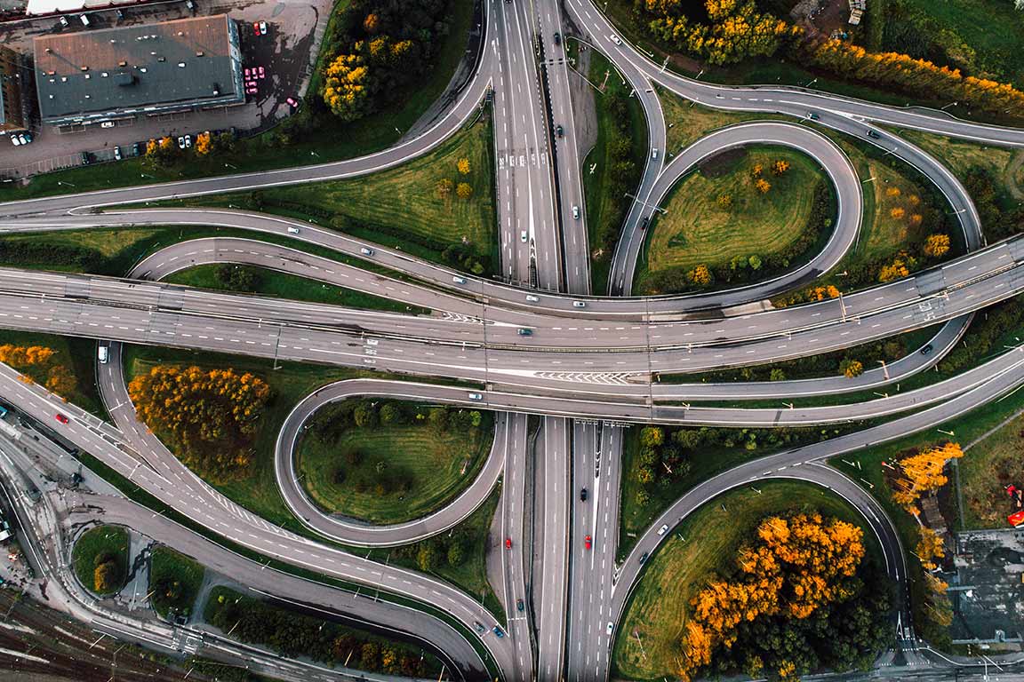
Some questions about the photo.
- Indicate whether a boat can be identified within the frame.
No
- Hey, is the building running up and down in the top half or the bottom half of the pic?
top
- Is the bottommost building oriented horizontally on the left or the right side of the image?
left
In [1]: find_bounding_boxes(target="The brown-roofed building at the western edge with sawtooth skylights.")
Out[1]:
[0,47,39,138]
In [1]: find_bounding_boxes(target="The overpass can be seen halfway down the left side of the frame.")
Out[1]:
[89,278,165,348]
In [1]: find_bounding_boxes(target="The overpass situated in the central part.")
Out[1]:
[430,279,659,421]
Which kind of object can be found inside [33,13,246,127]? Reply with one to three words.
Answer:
building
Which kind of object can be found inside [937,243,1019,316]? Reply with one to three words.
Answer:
overpass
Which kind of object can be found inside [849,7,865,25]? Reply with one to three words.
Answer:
vehicle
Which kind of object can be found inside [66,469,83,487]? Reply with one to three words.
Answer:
vehicle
